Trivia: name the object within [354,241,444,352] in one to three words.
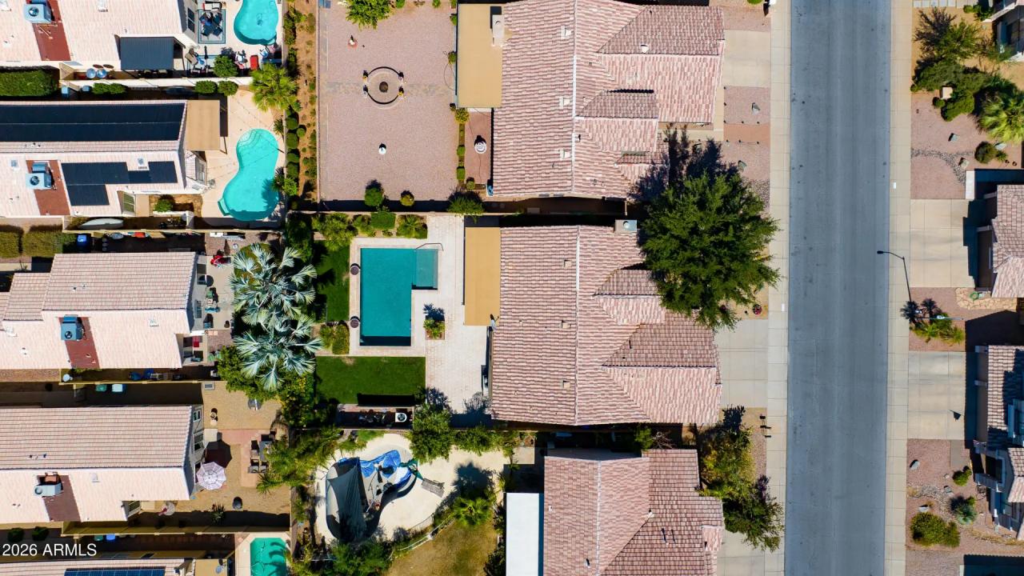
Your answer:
swimming pool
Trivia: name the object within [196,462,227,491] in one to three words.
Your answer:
umbrella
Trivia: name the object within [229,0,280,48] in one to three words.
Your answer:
swimming pool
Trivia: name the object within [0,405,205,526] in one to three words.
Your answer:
house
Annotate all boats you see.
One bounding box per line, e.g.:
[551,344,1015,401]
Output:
[77,217,127,230]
